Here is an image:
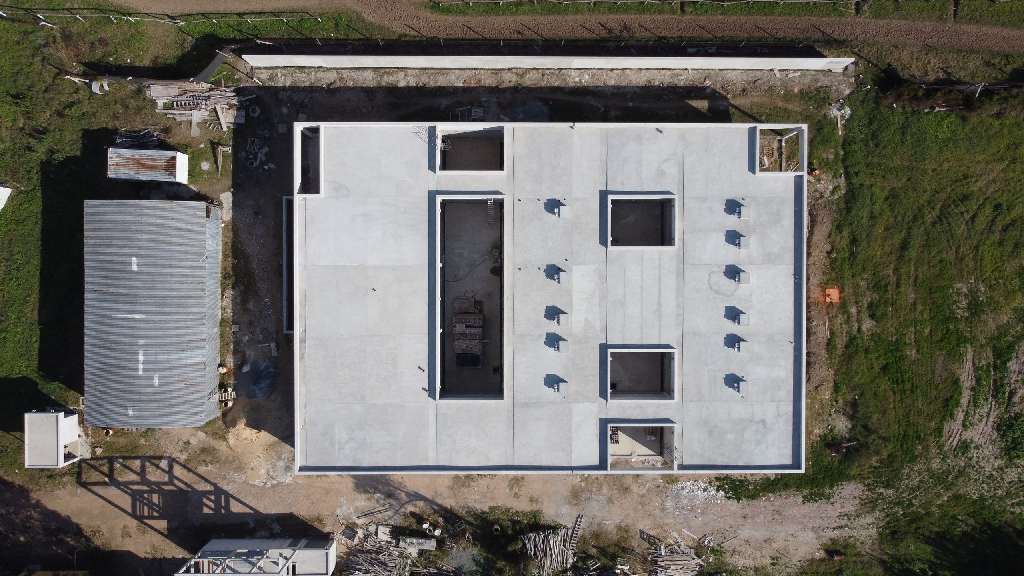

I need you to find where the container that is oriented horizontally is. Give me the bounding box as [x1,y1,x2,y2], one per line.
[107,148,189,184]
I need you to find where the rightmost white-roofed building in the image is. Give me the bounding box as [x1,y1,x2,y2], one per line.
[294,123,808,474]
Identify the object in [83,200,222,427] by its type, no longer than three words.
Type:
shed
